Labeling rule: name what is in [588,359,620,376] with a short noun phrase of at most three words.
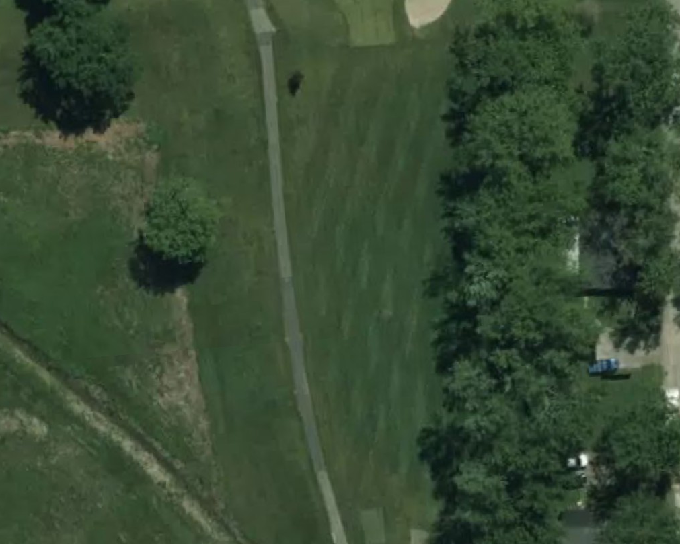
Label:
vehicle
